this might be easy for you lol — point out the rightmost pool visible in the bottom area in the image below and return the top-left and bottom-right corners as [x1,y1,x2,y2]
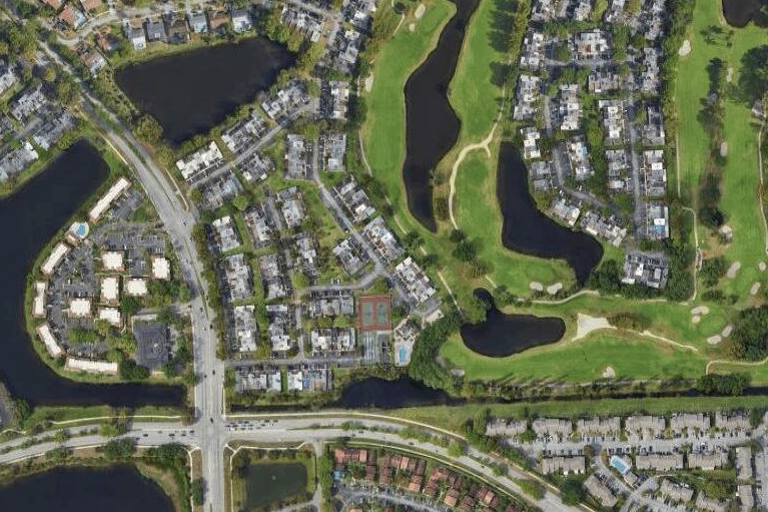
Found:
[610,455,631,474]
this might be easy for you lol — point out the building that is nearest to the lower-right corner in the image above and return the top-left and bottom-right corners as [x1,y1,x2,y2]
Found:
[739,485,754,512]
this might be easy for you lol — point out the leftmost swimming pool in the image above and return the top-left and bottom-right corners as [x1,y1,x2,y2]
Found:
[71,221,91,239]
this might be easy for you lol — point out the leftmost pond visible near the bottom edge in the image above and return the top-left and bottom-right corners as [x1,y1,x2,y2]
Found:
[246,463,307,508]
